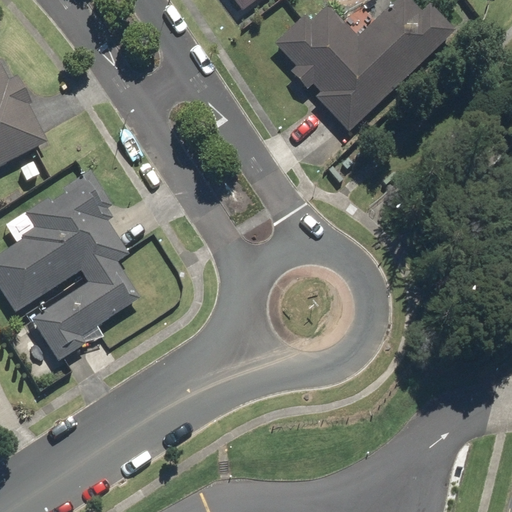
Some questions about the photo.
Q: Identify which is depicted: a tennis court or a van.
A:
van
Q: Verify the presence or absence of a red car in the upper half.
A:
Yes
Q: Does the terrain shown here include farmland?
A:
No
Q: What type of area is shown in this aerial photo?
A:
residential area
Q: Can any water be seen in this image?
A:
No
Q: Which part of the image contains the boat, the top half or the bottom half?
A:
top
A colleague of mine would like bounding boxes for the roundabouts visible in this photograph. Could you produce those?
[268,265,354,351]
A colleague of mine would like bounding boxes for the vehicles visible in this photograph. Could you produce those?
[298,212,326,240]
[119,222,148,247]
[80,477,112,503]
[289,114,320,144]
[138,160,163,190]
[160,420,194,447]
[162,0,188,36]
[188,44,216,76]
[46,415,78,442]
[46,498,76,512]
[118,449,153,477]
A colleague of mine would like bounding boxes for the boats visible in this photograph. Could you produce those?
[122,128,144,164]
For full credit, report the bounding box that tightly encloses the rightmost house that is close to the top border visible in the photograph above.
[276,0,456,132]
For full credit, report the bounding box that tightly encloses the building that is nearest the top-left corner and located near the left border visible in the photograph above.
[0,62,48,166]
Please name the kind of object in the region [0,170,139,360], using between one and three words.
house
